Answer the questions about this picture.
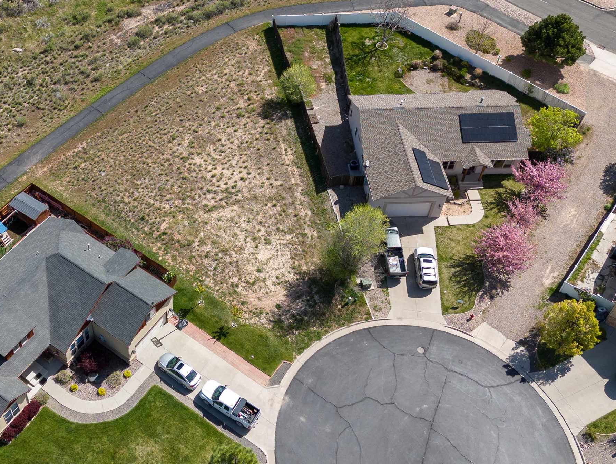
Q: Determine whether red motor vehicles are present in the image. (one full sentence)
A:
No, the photo shows no red motor vehicle.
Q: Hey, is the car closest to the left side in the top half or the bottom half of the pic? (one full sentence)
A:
You can find the car closest to the left side in the bottom half.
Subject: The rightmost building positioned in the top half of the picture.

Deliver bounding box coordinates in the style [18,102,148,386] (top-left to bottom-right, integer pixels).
[347,91,535,218]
